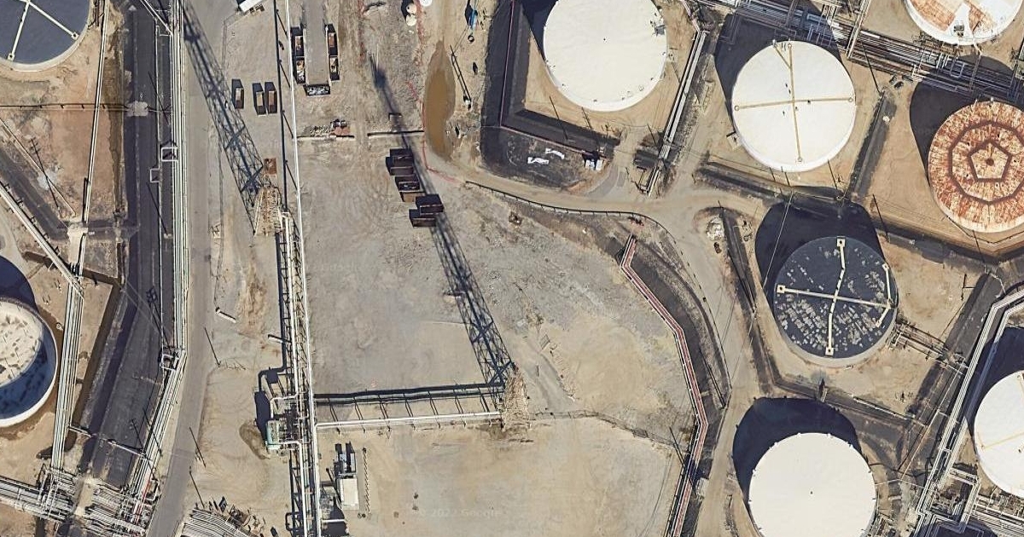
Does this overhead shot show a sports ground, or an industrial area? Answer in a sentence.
It's an industrial area.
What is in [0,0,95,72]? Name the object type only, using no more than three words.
storage tank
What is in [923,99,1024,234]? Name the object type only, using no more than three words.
storage tank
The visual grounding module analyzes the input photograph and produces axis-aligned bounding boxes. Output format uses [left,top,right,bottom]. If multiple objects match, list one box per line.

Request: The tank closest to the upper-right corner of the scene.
[901,0,1023,54]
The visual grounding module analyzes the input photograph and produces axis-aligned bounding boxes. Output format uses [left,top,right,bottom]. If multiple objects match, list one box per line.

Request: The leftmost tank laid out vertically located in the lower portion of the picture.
[0,295,63,436]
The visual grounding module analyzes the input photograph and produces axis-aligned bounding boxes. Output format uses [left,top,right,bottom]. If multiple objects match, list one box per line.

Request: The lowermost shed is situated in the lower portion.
[340,449,361,511]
